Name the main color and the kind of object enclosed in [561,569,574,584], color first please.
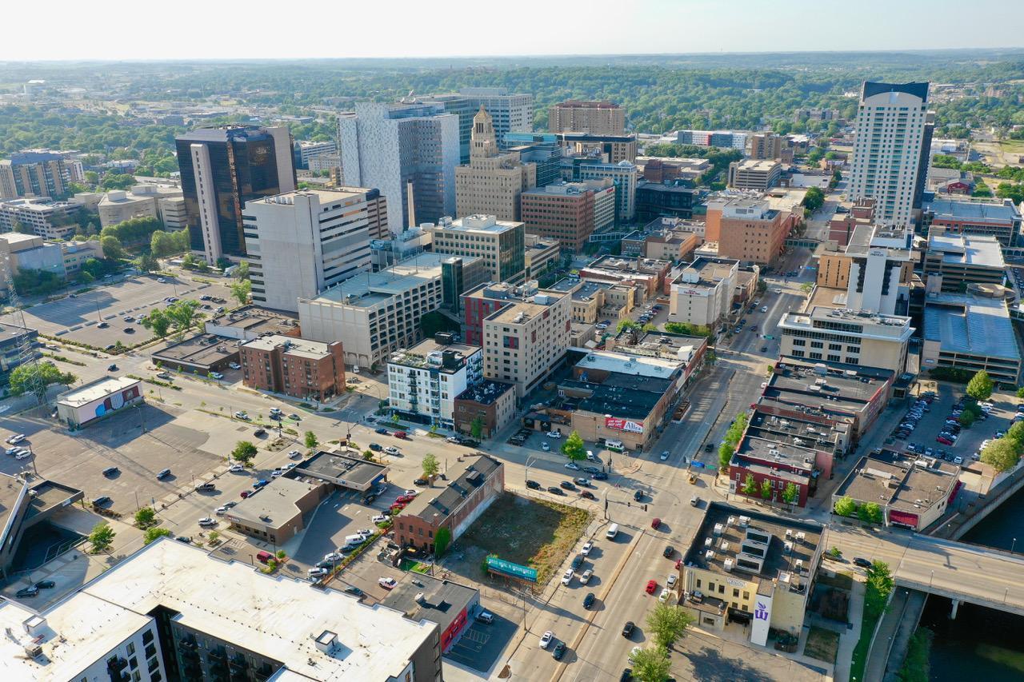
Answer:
white vehicle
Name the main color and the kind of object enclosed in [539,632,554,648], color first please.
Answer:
white car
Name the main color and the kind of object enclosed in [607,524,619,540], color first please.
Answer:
white vehicle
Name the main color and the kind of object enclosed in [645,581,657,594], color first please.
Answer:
red vehicle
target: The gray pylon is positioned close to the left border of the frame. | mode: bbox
[0,249,52,405]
